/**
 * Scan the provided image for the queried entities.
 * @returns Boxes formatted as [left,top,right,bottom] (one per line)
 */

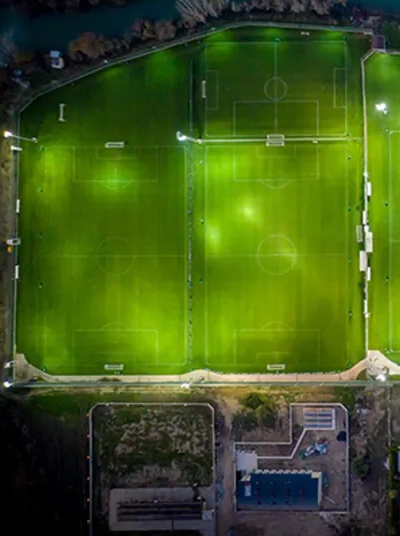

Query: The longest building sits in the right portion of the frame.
[238,469,322,509]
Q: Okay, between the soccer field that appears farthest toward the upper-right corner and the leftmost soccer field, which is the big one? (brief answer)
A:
the leftmost soccer field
